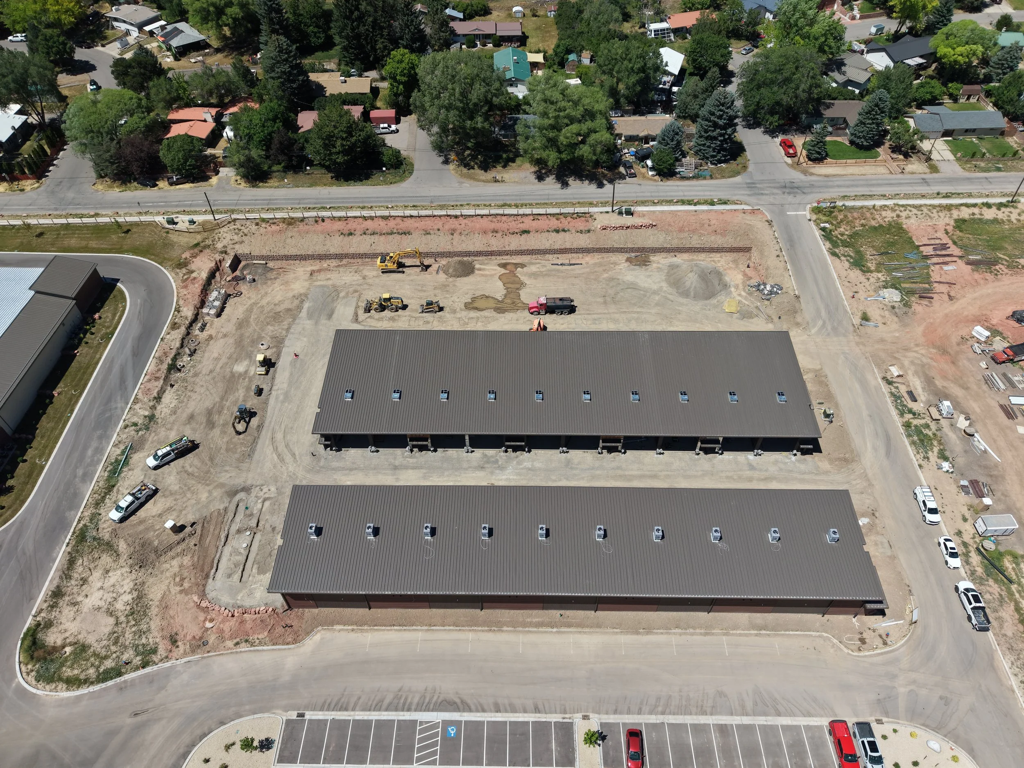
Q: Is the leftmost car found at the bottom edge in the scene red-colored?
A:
Yes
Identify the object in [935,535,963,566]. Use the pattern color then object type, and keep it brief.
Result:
white car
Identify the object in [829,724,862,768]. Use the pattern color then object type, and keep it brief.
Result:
red truck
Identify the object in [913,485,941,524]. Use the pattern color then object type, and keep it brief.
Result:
white truck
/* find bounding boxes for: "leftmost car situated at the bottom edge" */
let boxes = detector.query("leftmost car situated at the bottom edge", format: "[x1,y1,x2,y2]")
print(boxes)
[626,726,649,768]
